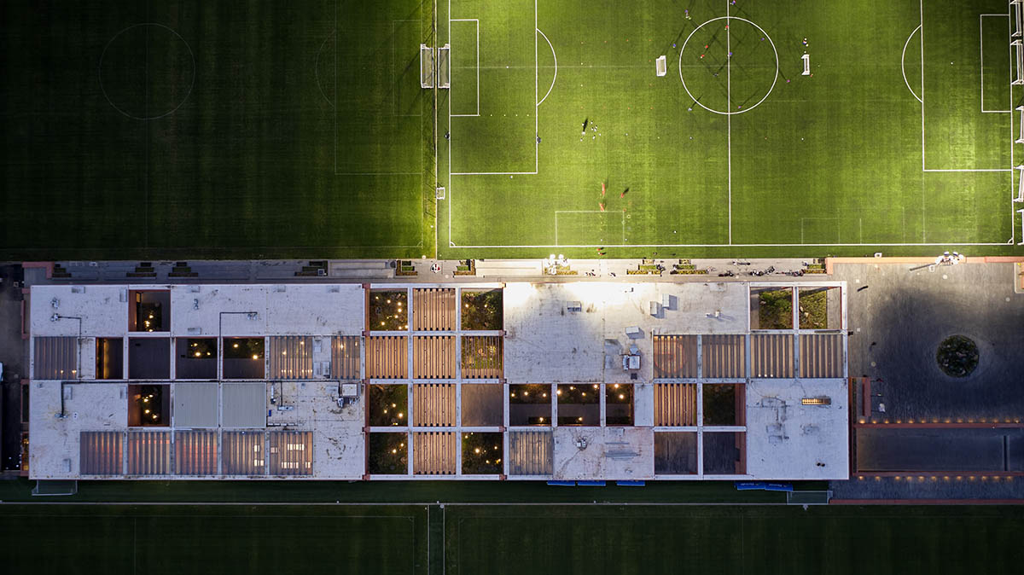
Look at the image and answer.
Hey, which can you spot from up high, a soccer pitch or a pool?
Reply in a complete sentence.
There is a soccer pitch in the scene.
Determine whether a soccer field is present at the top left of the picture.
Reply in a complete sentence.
Yes, a soccer field shows up at the top left of the picture.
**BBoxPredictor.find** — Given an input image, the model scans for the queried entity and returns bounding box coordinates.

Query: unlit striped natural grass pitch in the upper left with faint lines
[0,0,428,259]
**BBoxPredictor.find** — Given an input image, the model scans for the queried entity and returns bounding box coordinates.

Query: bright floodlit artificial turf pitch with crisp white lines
[437,0,1024,258]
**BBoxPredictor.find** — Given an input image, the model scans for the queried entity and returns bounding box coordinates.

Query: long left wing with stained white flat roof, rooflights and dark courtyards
[30,285,366,480]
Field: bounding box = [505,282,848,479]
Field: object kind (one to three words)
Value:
building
